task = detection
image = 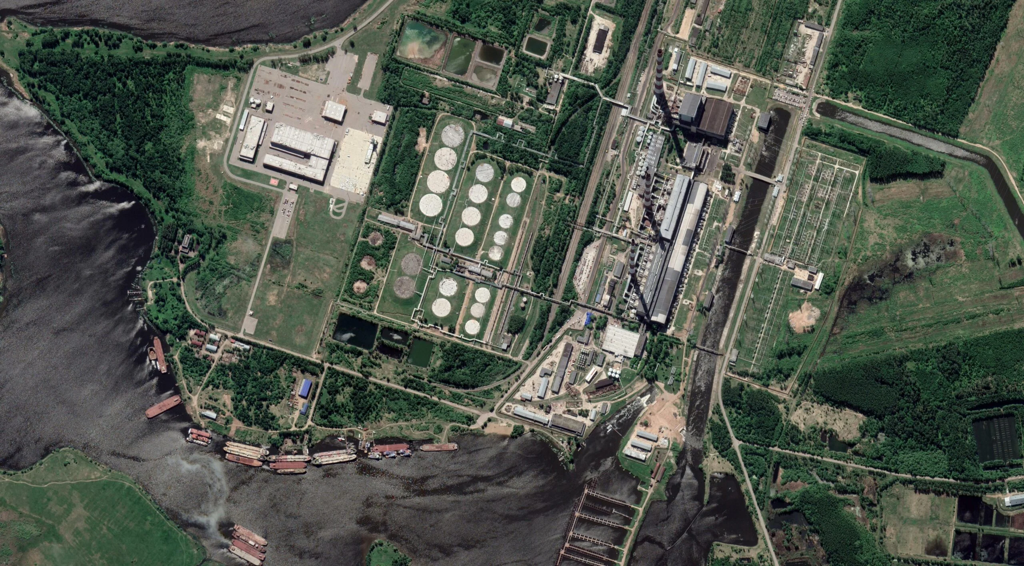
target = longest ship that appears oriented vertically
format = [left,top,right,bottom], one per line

[154,337,167,373]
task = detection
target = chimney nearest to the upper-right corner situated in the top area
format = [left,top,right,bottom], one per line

[653,49,665,101]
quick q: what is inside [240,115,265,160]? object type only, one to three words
building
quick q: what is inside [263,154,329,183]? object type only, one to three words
building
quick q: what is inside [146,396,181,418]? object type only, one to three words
ship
